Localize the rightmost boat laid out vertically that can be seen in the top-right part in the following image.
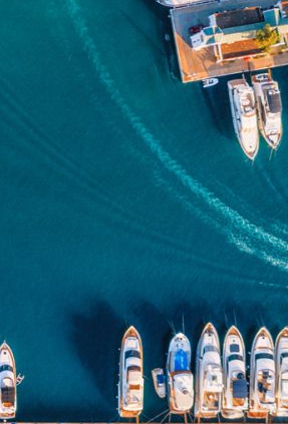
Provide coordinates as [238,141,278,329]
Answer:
[250,69,282,158]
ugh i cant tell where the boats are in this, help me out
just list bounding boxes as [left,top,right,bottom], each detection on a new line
[16,374,24,385]
[118,312,145,424]
[0,331,18,424]
[202,79,218,87]
[250,69,282,158]
[251,74,266,82]
[153,367,165,398]
[157,0,212,11]
[249,314,276,424]
[151,320,195,424]
[226,74,258,160]
[221,312,250,424]
[273,313,288,416]
[195,309,223,424]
